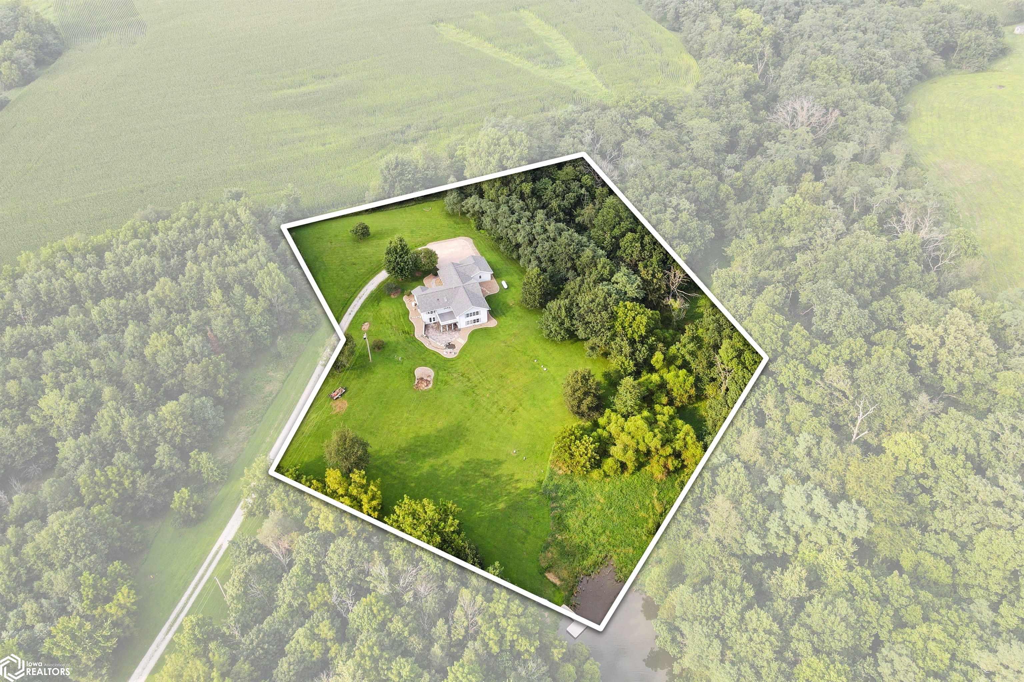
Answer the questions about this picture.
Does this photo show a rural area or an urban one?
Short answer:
rural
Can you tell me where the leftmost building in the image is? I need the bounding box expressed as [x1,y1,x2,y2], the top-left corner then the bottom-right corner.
[410,255,494,331]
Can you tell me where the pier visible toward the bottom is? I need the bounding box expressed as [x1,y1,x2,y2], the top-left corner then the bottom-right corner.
[561,605,588,638]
